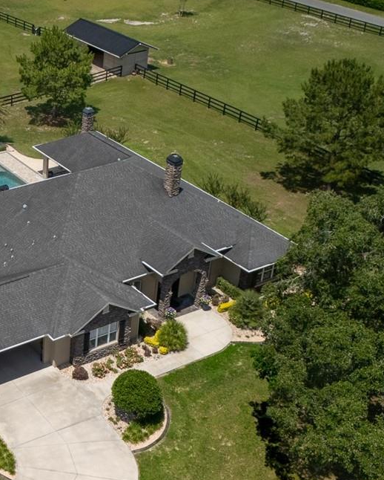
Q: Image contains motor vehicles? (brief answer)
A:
No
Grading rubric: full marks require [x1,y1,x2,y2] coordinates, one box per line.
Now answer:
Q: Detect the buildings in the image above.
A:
[73,23,159,77]
[0,104,307,372]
